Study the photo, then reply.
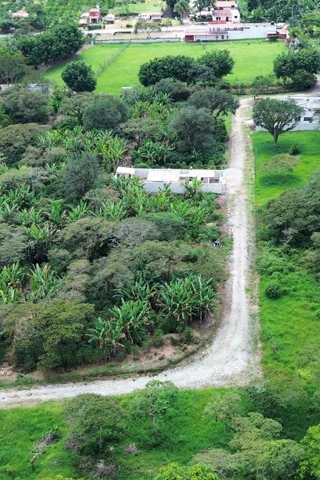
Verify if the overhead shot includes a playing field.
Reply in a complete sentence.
Yes, looking at the shot, I can spot a playing field.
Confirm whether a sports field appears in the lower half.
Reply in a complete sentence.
No, no sports field can be made out in the lower half.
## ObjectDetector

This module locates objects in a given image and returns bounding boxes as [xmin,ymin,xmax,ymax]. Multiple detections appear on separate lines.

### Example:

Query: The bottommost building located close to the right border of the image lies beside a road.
[266,93,320,122]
